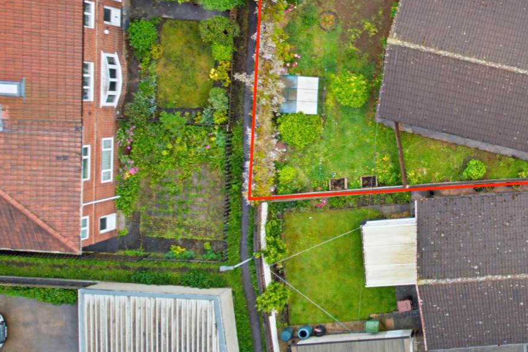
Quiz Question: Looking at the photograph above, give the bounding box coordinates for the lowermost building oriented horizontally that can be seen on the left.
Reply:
[78,280,241,352]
